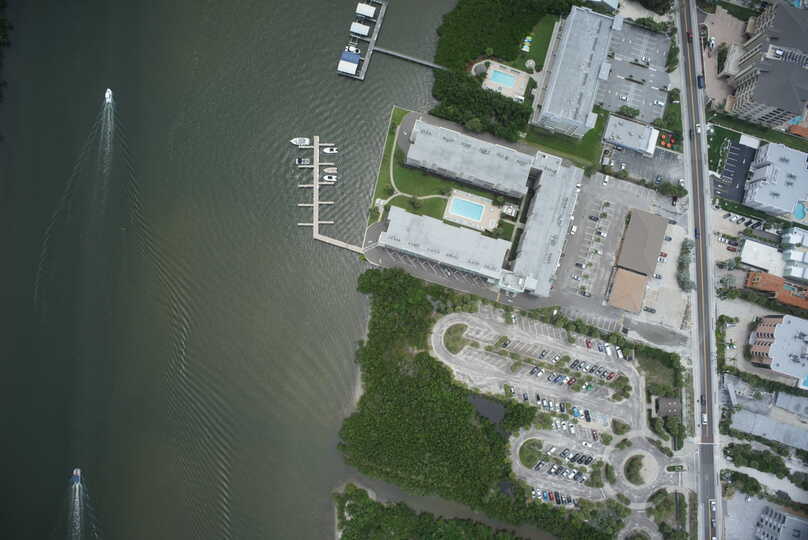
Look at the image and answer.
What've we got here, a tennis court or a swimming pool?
swimming pool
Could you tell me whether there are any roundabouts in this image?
Yes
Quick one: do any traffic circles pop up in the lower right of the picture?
Yes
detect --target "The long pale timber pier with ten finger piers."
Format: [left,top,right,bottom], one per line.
[298,135,363,253]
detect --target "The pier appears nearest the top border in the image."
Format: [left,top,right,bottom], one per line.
[336,0,447,81]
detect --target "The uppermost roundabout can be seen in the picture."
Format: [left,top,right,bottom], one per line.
[612,438,671,501]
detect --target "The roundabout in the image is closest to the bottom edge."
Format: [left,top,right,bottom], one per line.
[614,516,658,540]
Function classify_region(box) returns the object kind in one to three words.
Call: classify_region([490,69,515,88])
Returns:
swimming pool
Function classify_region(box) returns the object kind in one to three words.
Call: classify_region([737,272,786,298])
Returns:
house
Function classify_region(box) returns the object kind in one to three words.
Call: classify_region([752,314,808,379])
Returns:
building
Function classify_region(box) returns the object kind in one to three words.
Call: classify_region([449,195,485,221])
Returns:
swimming pool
